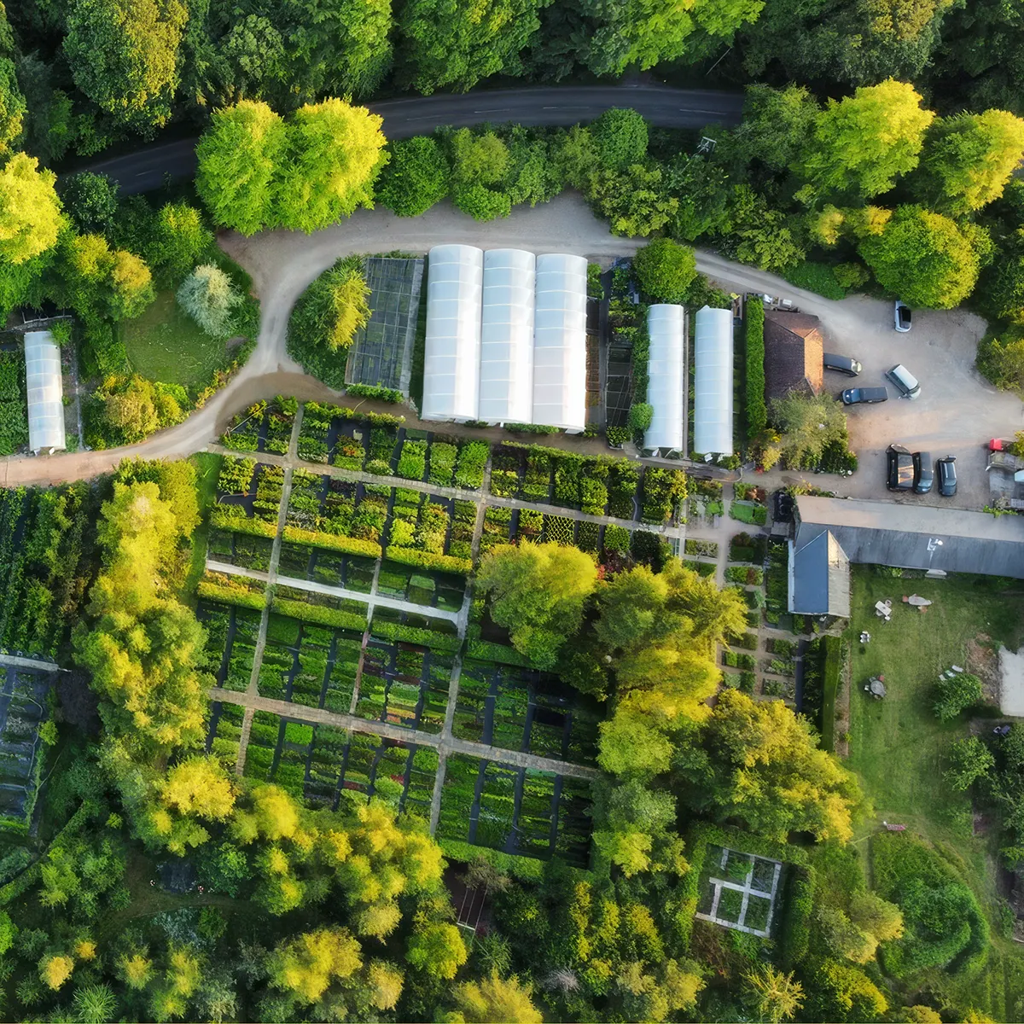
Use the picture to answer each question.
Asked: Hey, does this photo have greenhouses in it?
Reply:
Yes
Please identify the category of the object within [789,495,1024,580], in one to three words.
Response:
barn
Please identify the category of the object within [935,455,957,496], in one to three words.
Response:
car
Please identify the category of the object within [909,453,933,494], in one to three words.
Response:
car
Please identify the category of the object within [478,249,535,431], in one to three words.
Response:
greenhouse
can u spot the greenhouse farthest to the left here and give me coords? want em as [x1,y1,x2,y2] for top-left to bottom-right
[21,333,65,453]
